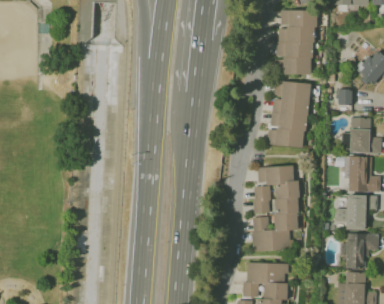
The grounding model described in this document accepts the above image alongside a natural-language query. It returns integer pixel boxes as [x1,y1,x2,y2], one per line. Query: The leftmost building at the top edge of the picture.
[278,10,317,74]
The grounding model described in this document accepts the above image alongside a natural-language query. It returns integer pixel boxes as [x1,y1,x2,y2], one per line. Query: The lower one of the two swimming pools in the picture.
[324,239,338,267]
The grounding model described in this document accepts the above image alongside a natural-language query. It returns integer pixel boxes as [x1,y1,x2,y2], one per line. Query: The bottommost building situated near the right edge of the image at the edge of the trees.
[337,272,378,304]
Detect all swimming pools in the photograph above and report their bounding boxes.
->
[331,118,348,136]
[324,239,338,267]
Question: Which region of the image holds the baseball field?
top left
